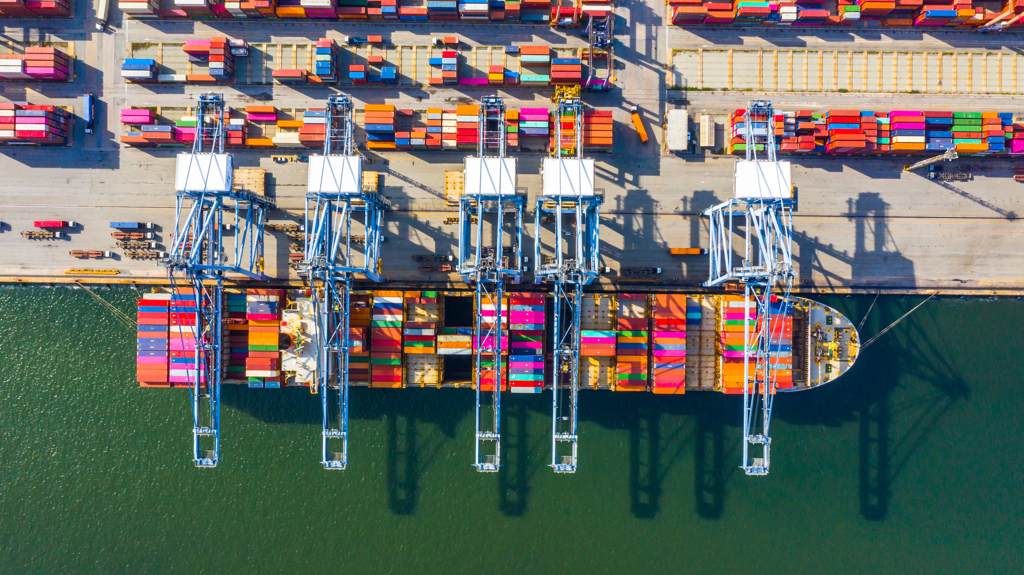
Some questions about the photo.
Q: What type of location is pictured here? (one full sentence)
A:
This image shows a port.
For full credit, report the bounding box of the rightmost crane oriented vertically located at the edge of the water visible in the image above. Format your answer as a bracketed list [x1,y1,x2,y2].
[695,91,799,478]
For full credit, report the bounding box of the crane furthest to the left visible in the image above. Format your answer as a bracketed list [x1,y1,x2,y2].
[162,85,280,471]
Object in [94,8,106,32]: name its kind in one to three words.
vehicle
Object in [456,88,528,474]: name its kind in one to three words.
container crane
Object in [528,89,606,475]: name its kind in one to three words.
container crane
